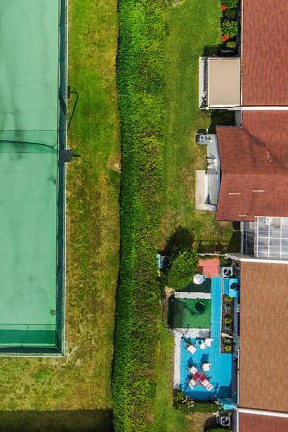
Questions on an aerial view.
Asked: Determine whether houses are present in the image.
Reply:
Yes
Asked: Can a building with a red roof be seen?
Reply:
Yes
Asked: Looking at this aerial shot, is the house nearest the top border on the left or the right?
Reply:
right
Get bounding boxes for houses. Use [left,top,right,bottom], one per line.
[200,0,288,107]
[208,111,288,220]
[234,260,288,410]
[232,409,288,432]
